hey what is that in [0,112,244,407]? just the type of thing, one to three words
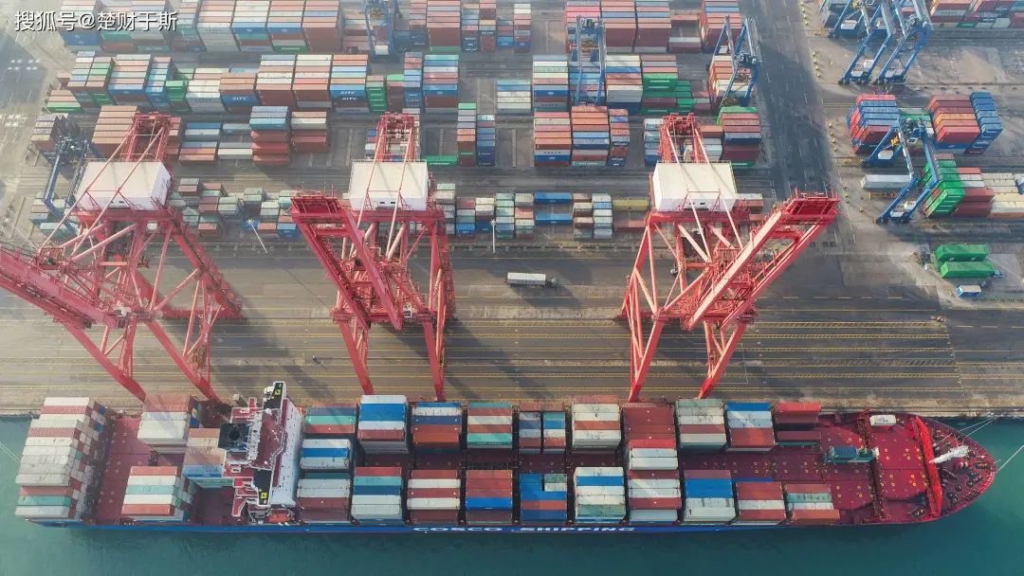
container crane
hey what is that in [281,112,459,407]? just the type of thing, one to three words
container crane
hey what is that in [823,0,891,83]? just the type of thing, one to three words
crane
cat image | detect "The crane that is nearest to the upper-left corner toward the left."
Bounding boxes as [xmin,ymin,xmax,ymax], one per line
[36,133,110,241]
